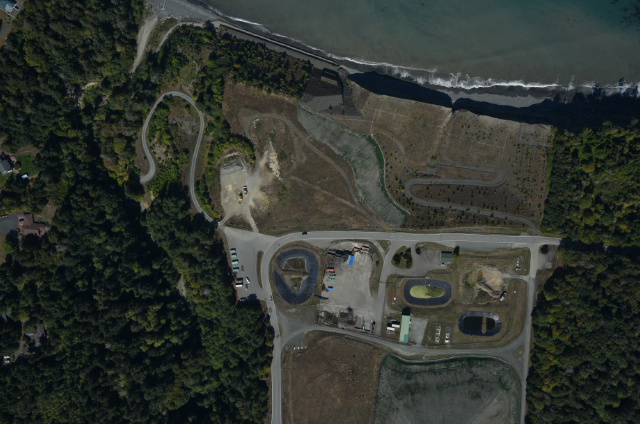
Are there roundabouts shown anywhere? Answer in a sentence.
No, no roundabout is visible in the scene.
